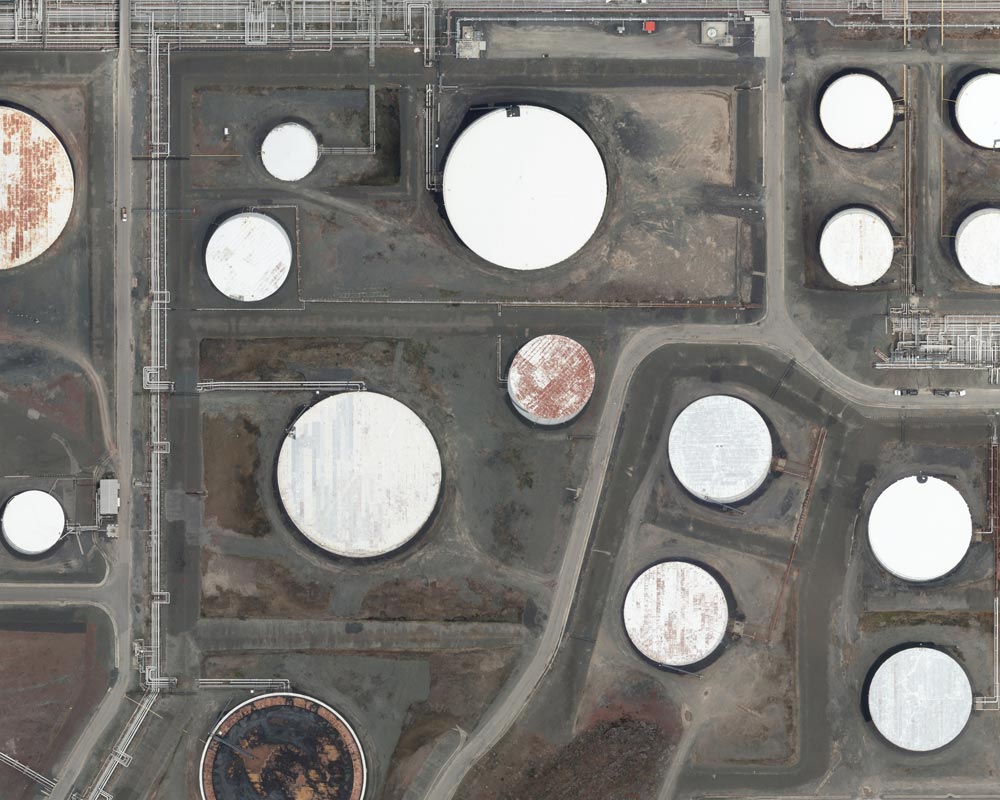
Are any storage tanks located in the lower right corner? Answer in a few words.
Yes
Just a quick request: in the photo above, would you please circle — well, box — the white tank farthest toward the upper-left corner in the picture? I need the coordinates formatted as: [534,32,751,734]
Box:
[0,99,82,271]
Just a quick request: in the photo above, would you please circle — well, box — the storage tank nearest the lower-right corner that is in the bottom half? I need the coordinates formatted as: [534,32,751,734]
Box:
[861,639,972,749]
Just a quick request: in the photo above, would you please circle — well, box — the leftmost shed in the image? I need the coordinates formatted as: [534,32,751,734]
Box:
[98,480,120,515]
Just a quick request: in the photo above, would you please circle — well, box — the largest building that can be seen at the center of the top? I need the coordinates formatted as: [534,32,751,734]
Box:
[456,26,485,58]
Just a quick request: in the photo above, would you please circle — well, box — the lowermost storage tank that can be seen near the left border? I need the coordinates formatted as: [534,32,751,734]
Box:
[0,488,68,557]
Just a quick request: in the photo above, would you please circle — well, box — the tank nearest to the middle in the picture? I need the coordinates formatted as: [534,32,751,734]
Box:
[504,334,598,428]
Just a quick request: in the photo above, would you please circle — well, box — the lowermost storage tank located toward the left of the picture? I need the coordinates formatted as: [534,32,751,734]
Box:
[200,693,368,800]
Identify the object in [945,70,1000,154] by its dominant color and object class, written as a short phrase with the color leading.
white storage tank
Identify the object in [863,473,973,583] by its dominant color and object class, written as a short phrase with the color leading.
white storage tank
